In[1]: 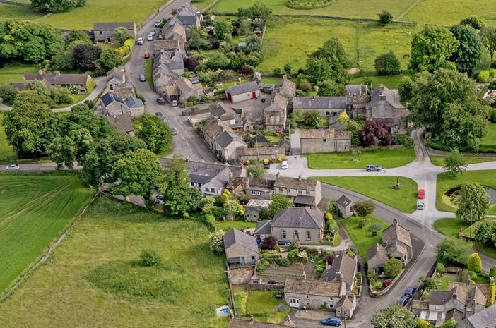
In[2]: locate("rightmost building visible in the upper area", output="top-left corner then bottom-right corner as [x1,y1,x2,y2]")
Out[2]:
[366,81,412,137]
